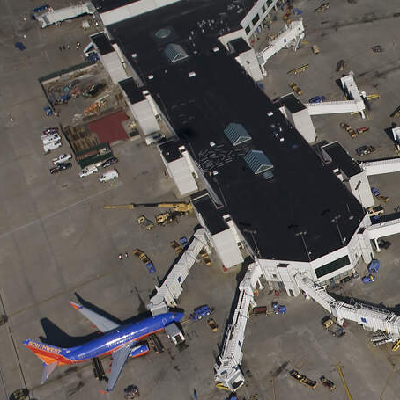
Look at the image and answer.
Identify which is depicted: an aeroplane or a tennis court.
aeroplane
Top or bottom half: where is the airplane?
bottom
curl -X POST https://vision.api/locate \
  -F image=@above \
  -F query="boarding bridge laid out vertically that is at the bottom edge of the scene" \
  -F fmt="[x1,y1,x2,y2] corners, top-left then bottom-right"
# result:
[222,261,263,389]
